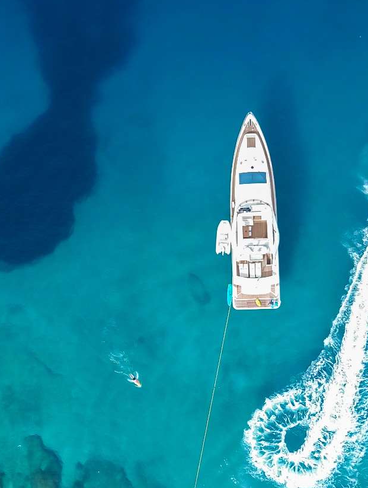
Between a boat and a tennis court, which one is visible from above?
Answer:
boat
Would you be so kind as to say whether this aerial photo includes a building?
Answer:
No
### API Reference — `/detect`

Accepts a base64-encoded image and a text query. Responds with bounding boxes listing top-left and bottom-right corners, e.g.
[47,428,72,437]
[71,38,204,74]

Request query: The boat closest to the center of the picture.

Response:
[216,220,231,256]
